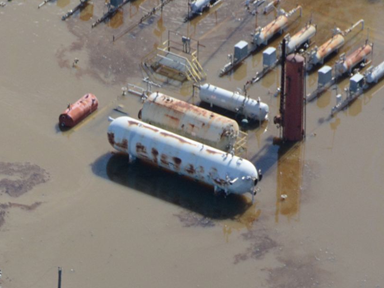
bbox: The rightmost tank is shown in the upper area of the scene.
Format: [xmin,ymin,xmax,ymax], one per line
[194,83,270,126]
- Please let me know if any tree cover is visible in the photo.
No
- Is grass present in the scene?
No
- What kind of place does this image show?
industrial area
